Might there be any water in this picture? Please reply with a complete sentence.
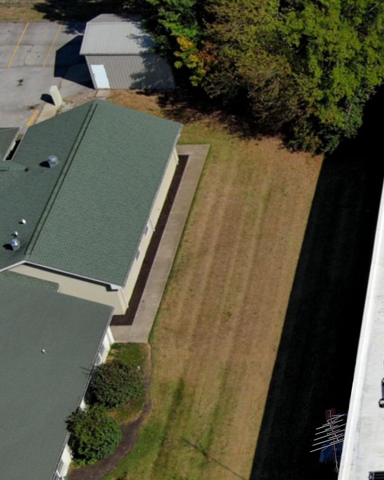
No, water can't be seen anywhere here.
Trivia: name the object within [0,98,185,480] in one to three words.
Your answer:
building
